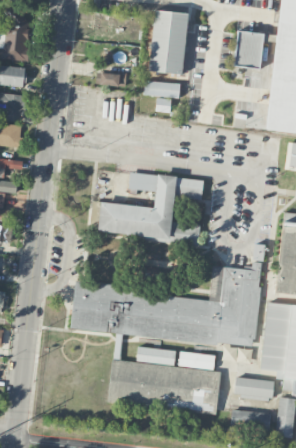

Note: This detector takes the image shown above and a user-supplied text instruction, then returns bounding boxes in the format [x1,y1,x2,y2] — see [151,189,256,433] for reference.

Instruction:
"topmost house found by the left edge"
[0,27,28,62]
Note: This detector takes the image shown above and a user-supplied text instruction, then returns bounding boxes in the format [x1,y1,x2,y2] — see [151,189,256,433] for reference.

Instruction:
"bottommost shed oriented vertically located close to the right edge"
[278,398,296,438]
